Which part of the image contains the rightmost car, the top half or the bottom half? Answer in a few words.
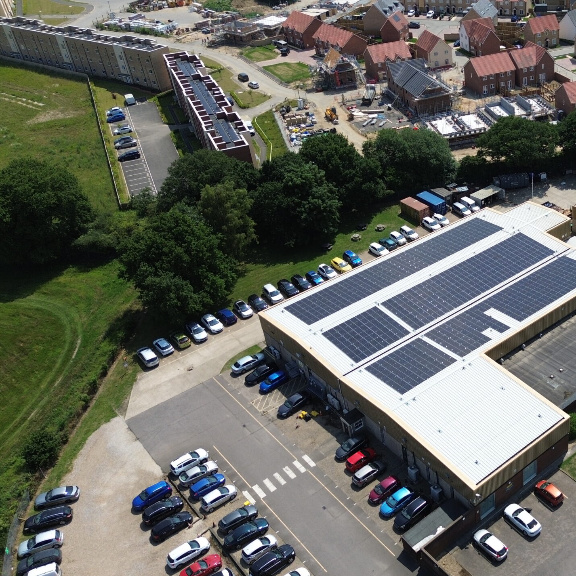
bottom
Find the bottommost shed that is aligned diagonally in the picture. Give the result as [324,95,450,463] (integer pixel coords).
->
[400,497,475,566]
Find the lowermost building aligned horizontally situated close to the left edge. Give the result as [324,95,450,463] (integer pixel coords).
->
[0,16,171,87]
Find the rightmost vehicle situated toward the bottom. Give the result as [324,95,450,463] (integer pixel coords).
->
[533,480,568,509]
